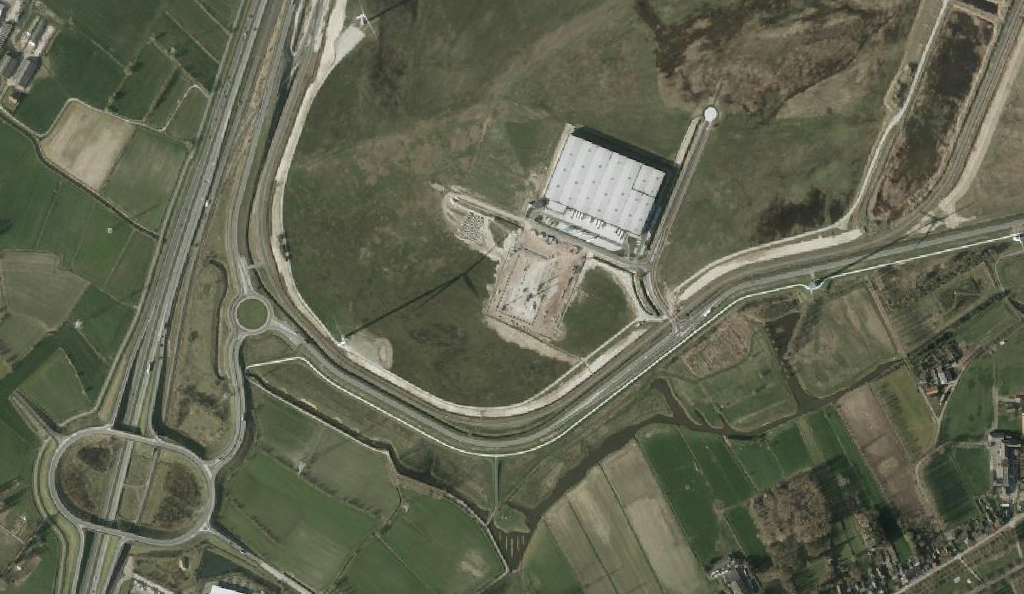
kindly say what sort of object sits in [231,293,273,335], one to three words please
roundabout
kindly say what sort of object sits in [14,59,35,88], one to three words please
barn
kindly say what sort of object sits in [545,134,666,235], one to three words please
building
